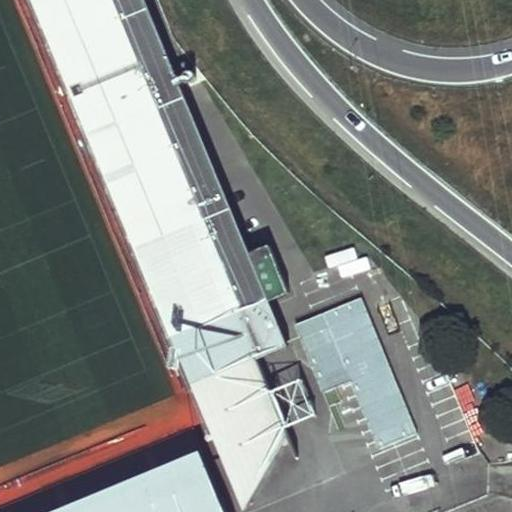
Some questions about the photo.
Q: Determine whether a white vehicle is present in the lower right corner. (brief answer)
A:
Yes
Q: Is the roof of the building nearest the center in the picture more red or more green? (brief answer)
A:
green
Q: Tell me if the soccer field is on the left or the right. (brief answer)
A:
left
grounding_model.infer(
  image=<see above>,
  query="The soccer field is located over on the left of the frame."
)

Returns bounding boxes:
[0,0,174,467]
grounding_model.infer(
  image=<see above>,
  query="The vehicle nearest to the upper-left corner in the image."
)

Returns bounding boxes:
[226,190,245,204]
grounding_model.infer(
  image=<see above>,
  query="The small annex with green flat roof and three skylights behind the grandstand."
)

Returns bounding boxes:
[250,246,286,300]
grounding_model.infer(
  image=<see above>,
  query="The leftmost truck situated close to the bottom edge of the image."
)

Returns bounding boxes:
[390,474,437,498]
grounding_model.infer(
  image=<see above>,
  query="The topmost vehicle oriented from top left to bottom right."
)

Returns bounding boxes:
[345,110,366,130]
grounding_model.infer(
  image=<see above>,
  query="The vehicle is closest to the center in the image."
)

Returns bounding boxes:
[239,218,260,232]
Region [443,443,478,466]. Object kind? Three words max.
vehicle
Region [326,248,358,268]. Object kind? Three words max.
building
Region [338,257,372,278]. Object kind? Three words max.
building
